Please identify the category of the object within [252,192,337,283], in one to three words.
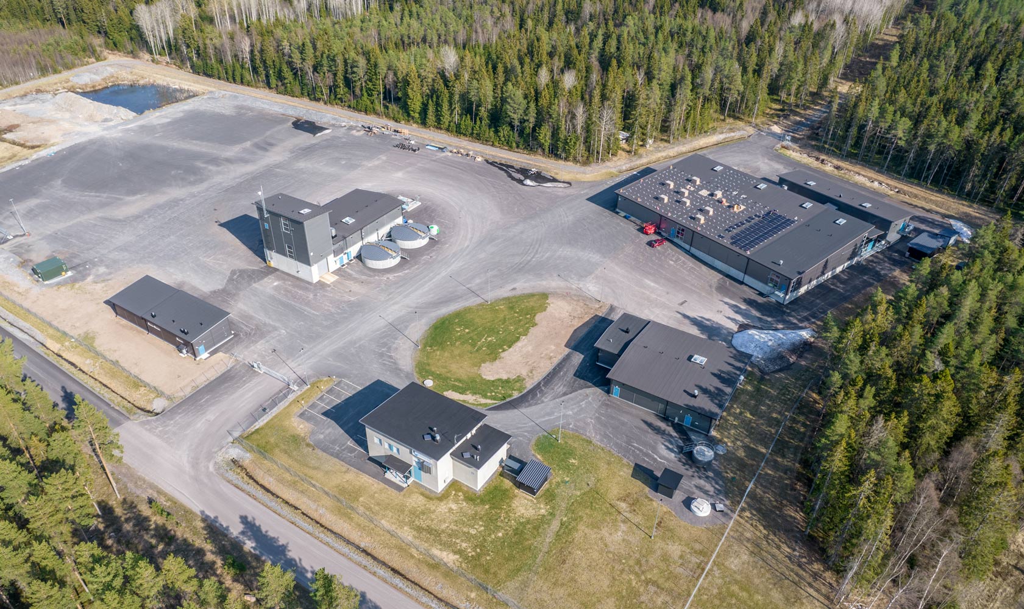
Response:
building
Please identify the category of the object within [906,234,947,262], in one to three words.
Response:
shed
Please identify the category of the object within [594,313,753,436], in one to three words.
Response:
building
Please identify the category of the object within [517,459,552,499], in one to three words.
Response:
shed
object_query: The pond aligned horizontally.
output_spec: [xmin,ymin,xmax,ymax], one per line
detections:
[82,83,198,114]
